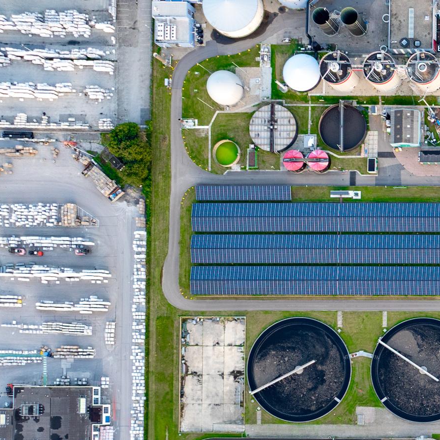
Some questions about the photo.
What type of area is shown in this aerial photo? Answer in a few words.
industrial area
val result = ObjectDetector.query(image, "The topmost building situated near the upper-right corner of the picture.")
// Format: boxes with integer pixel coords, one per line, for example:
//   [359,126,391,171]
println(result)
[390,0,436,54]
